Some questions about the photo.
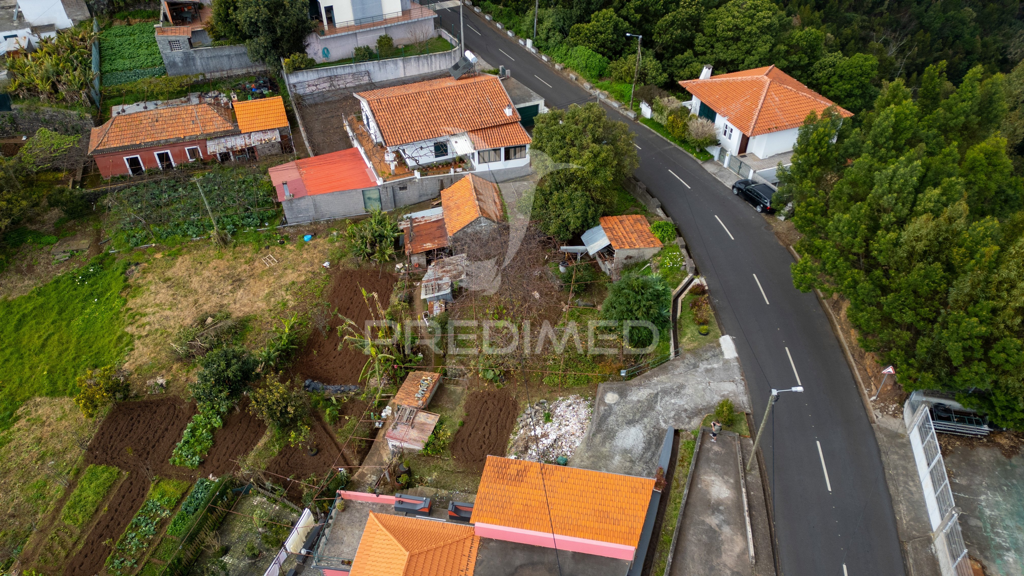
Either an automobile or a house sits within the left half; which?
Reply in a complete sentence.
The one visible within the left half is a house.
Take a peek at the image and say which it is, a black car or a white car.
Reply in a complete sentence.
The one in the frame is a black car.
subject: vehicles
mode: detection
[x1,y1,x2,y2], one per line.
[730,181,782,210]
